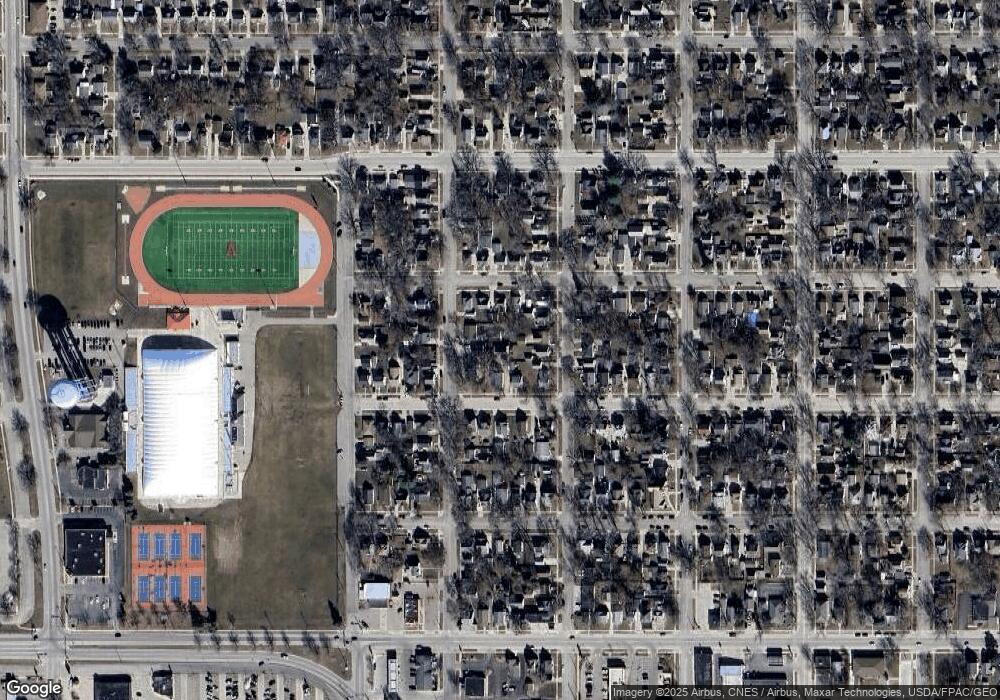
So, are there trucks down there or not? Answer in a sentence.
No, I can see no truck in this picture.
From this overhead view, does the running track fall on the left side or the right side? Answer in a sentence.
The running track is on the left side of the image.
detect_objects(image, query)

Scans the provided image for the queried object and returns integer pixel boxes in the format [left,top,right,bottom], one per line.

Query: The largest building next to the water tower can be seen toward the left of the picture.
[67,415,108,447]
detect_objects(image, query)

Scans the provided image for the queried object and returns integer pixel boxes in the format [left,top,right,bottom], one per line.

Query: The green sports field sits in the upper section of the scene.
[145,207,299,293]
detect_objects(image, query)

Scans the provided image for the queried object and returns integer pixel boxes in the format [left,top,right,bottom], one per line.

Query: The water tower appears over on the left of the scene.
[51,377,98,409]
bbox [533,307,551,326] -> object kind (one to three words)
house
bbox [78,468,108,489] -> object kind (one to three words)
house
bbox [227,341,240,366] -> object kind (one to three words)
building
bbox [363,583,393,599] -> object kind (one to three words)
building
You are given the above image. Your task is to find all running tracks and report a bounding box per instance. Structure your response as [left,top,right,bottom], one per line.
[130,193,333,310]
